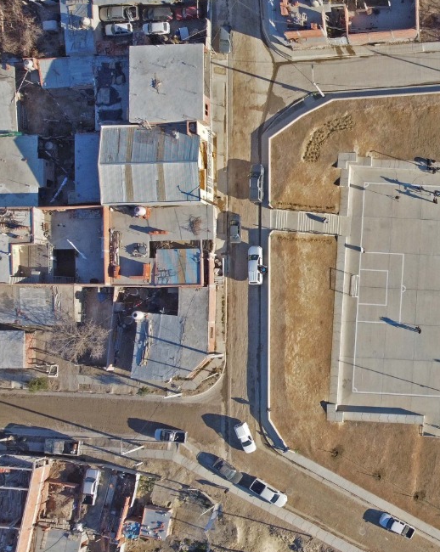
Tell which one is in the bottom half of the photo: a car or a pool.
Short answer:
car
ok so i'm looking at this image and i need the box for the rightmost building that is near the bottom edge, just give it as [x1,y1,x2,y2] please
[139,501,180,539]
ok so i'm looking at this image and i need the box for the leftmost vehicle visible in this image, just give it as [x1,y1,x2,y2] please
[44,437,84,454]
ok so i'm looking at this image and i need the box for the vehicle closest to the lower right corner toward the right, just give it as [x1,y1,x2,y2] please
[376,511,418,540]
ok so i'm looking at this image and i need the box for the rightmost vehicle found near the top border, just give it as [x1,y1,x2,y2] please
[217,24,233,54]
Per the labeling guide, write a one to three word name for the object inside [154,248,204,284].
house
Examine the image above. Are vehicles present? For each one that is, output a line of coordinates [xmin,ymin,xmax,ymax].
[152,427,189,444]
[376,511,418,540]
[226,213,242,242]
[170,3,201,20]
[99,5,139,22]
[247,246,265,284]
[44,437,84,454]
[208,455,246,485]
[142,20,171,37]
[217,24,233,54]
[82,466,103,505]
[233,418,257,456]
[248,476,290,507]
[104,21,134,38]
[248,163,266,204]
